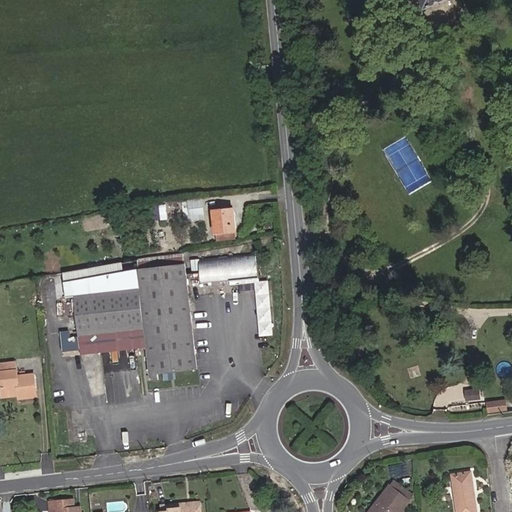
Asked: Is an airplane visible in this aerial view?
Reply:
No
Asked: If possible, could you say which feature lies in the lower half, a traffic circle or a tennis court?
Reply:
traffic circle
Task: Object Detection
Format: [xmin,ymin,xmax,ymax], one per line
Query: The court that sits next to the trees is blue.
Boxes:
[382,136,432,195]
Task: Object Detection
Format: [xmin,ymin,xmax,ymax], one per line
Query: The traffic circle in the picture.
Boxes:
[256,368,372,485]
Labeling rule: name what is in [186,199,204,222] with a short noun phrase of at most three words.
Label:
barn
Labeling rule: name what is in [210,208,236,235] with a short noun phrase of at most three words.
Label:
house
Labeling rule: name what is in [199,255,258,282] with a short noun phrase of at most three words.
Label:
hangar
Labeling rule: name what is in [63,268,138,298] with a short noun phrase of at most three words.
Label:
building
